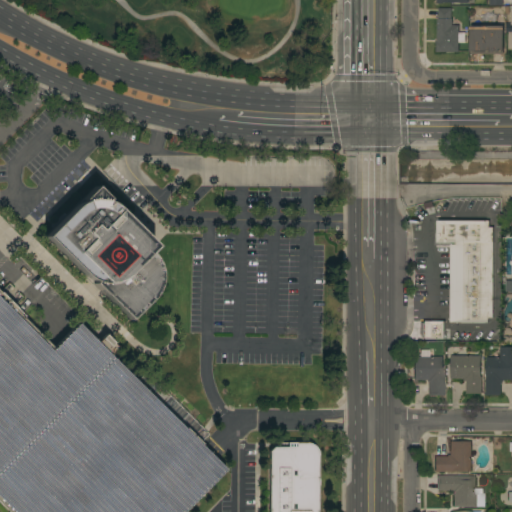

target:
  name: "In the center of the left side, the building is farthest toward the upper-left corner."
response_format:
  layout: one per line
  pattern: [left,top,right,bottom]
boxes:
[50,187,163,283]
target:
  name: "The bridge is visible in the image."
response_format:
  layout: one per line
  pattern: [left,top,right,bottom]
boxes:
[344,152,400,198]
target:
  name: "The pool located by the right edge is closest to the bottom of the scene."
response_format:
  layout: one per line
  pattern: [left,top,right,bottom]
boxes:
[476,444,490,468]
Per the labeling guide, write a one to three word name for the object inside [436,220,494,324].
building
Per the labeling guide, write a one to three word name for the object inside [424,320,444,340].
building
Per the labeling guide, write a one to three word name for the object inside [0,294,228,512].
warehouse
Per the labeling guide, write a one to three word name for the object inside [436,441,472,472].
house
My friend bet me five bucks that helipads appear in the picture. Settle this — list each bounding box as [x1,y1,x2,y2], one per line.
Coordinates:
[98,234,141,277]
